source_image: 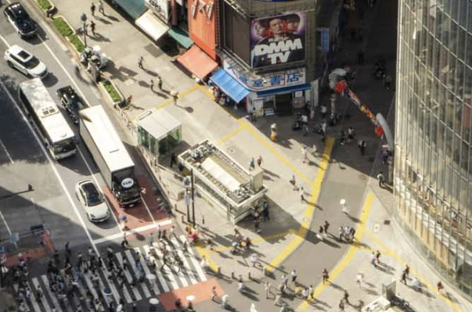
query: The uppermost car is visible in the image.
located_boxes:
[1,1,38,37]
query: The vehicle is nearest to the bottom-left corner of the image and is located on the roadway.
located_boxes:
[73,179,108,220]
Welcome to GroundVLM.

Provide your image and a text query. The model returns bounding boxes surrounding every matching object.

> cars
[1,1,38,37]
[73,179,108,220]
[55,84,86,123]
[2,44,45,80]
